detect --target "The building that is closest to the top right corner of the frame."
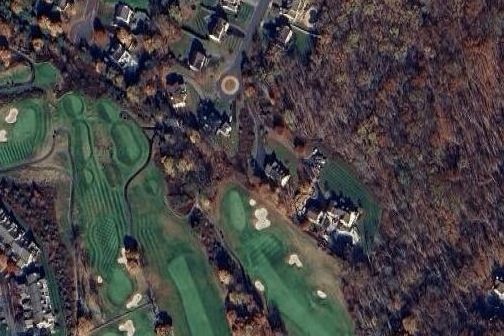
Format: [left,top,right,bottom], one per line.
[286,1,313,24]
